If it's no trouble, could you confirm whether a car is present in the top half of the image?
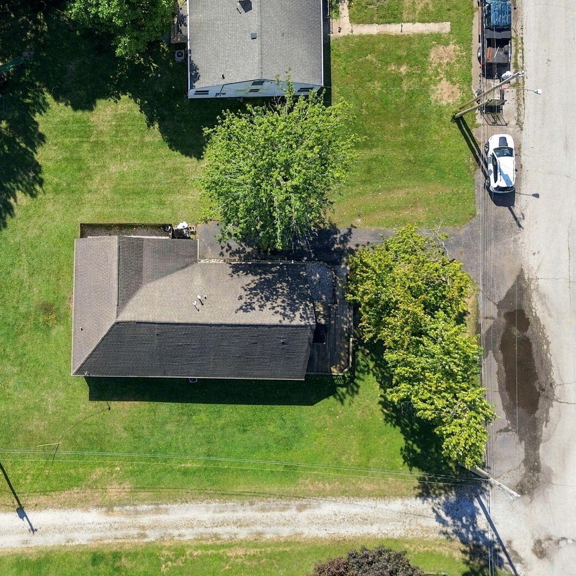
Yes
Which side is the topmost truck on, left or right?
right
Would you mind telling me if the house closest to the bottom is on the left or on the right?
left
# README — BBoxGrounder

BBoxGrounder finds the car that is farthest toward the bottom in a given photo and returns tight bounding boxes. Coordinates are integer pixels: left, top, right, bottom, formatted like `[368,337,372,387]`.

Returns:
[481,135,517,197]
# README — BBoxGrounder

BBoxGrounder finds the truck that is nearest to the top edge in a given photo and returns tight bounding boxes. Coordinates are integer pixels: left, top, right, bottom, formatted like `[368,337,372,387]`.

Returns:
[478,0,515,67]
